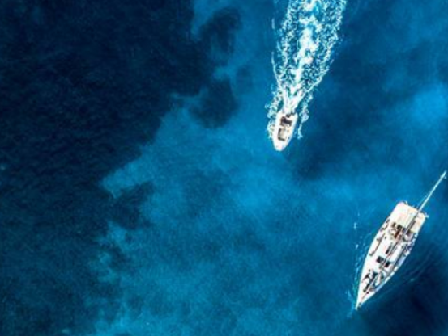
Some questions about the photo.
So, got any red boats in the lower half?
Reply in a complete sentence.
No, there is no red boat in the lower half.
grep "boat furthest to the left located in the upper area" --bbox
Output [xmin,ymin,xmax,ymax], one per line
[271,106,295,151]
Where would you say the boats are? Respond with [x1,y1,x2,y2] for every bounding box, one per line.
[352,164,439,310]
[271,106,295,151]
